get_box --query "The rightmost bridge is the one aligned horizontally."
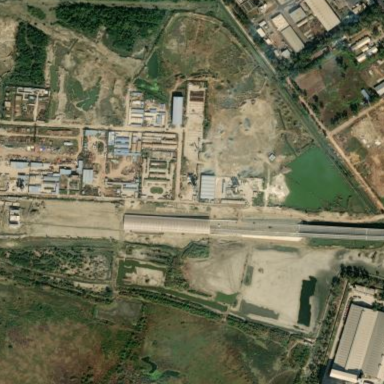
[300,224,384,239]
